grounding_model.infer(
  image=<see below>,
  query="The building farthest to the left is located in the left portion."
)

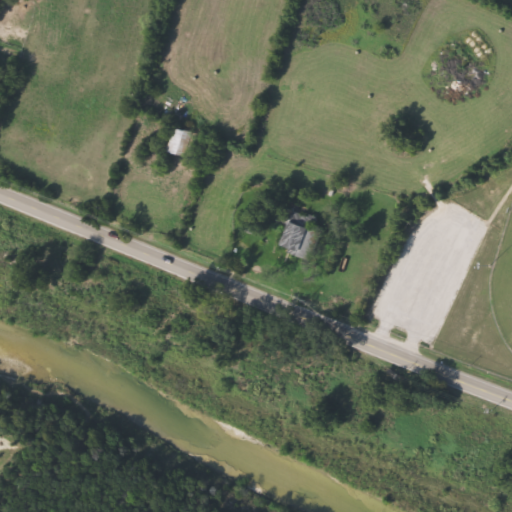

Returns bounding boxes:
[170,130,192,155]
